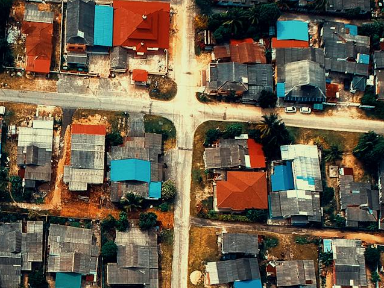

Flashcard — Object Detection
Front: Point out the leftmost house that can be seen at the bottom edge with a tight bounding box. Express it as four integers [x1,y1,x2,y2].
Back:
[0,218,43,288]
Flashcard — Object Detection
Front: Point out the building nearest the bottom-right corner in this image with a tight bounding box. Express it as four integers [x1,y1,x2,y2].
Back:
[322,239,366,288]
